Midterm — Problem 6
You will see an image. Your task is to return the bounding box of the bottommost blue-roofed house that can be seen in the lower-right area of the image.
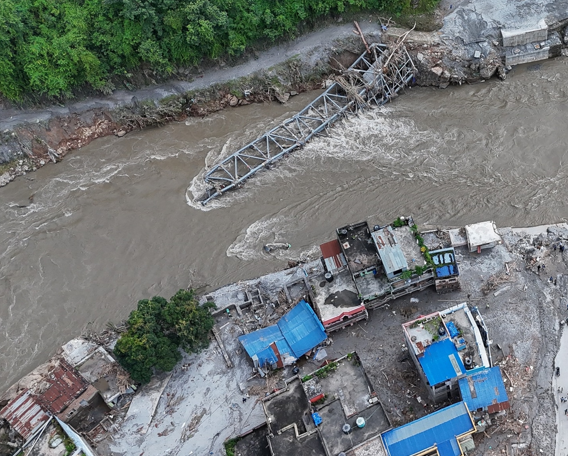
[381,401,478,456]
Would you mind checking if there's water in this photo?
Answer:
Yes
